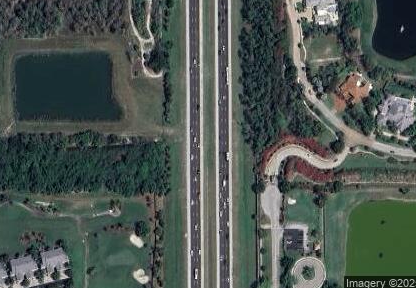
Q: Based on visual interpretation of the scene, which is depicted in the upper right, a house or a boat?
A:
house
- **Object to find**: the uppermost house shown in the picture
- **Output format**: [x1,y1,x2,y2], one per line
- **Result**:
[305,0,335,24]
